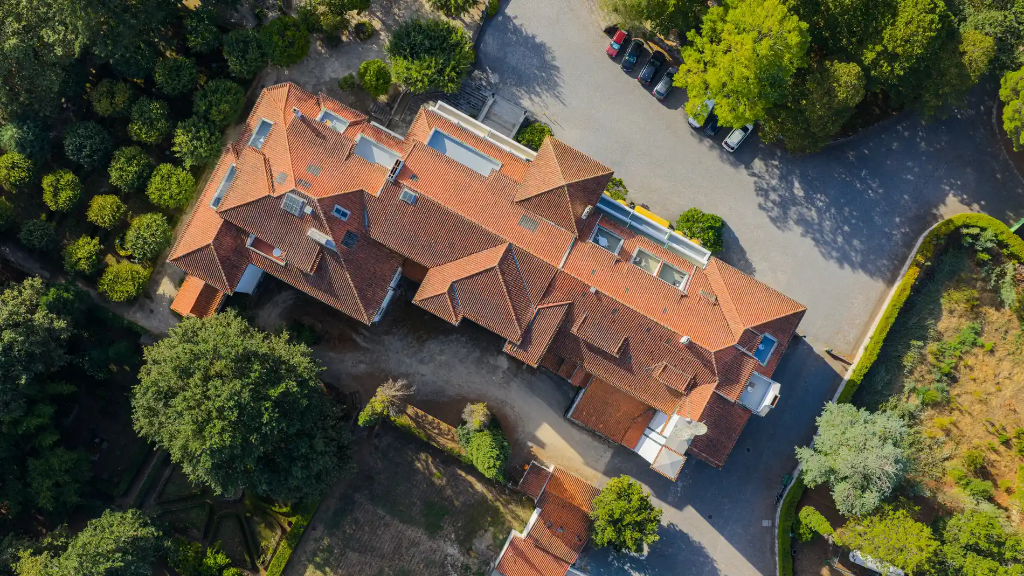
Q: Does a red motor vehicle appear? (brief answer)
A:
Yes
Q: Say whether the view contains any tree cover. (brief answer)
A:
Yes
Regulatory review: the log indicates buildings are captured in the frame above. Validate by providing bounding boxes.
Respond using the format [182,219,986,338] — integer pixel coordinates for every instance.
[484,454,601,576]
[166,80,808,480]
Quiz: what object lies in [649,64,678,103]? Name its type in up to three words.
car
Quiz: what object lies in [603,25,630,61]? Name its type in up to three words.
car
